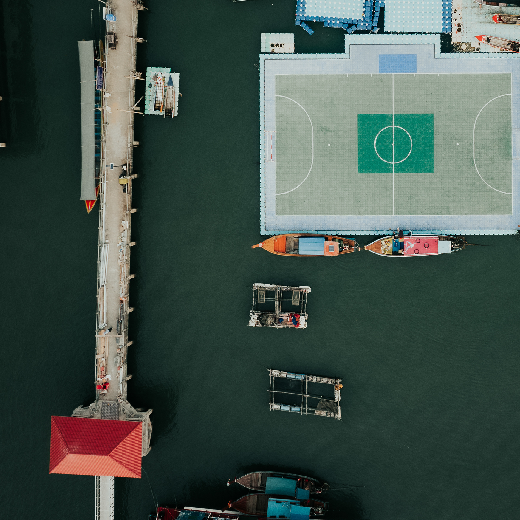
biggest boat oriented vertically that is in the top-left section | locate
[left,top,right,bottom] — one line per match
[78,38,101,214]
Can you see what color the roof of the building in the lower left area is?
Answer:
red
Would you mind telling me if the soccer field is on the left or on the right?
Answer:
right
